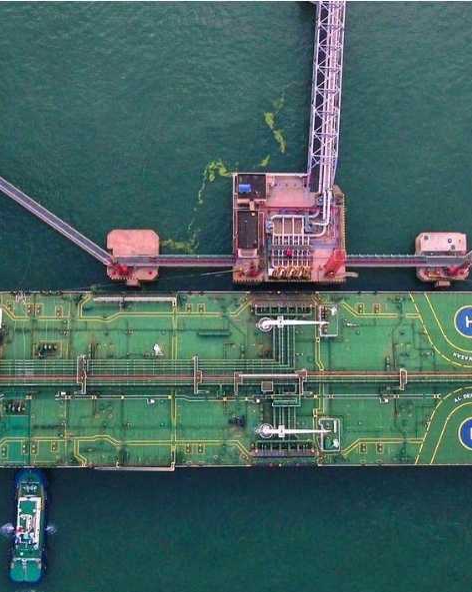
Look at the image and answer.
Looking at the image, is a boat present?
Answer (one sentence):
Yes, a boat is visible in the scene.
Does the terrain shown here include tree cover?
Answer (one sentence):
No, the scene doesn't show any tree cover.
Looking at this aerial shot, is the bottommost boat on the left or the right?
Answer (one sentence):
The bottommost boat appears in the left half of the scene.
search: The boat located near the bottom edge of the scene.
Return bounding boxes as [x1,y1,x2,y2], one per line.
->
[8,469,46,584]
